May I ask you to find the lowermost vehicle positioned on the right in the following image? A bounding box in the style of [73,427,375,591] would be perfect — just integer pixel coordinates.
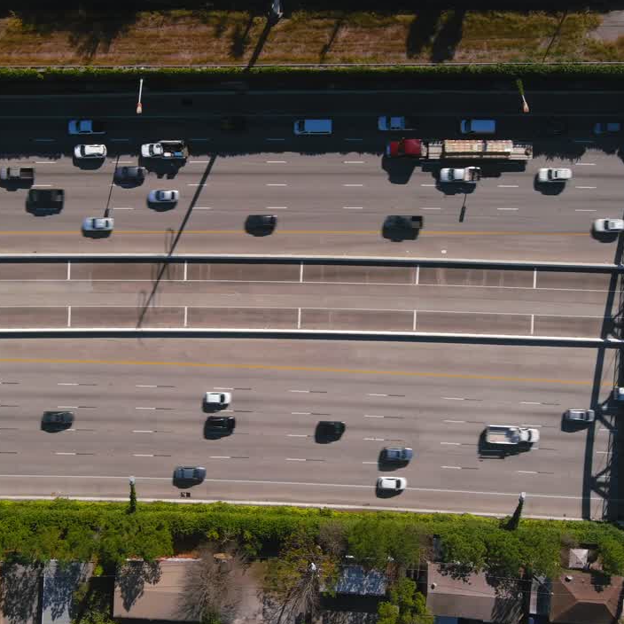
[377,477,406,491]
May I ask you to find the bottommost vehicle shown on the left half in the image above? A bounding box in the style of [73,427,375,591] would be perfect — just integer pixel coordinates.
[175,467,206,481]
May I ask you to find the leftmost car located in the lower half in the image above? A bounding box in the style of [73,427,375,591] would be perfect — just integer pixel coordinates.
[43,412,74,424]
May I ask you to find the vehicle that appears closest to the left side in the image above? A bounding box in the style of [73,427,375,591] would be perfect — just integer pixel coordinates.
[0,165,35,181]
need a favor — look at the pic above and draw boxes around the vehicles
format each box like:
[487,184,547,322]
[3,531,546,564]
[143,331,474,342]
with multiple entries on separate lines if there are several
[381,217,423,232]
[115,167,146,182]
[75,144,108,158]
[245,216,277,231]
[206,392,232,406]
[385,139,534,160]
[592,122,621,135]
[29,191,65,206]
[535,167,572,182]
[69,119,106,134]
[377,477,406,491]
[439,167,482,182]
[459,119,497,134]
[0,165,35,181]
[294,119,333,134]
[317,421,346,434]
[142,142,187,158]
[591,217,624,233]
[175,467,206,481]
[43,412,74,424]
[564,408,594,423]
[83,217,115,232]
[383,448,412,462]
[147,190,180,203]
[487,427,540,444]
[377,115,417,132]
[207,417,236,432]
